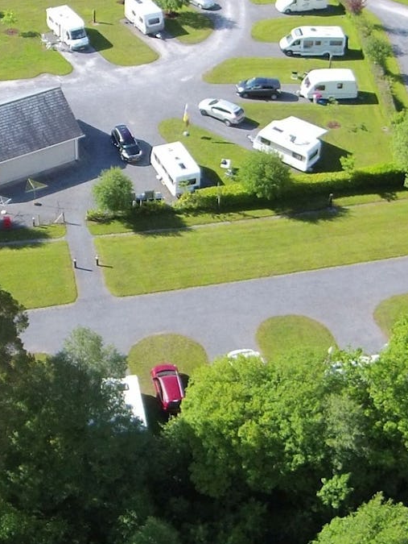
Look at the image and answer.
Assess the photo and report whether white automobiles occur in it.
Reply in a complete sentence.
Yes, this view includes a white automobile.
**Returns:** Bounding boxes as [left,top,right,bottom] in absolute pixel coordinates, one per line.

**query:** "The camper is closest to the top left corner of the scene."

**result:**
[48,1,88,44]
